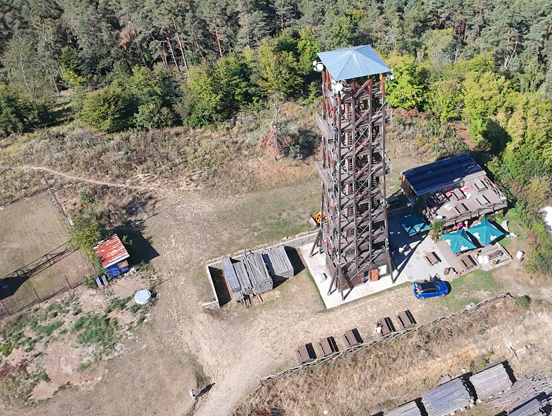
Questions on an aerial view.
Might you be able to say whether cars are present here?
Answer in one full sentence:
Yes, a car can be made out from above.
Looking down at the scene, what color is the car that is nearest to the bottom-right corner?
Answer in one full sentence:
The color of the car that is nearest to the bottom-right corner is blue.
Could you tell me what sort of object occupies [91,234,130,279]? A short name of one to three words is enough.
shed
